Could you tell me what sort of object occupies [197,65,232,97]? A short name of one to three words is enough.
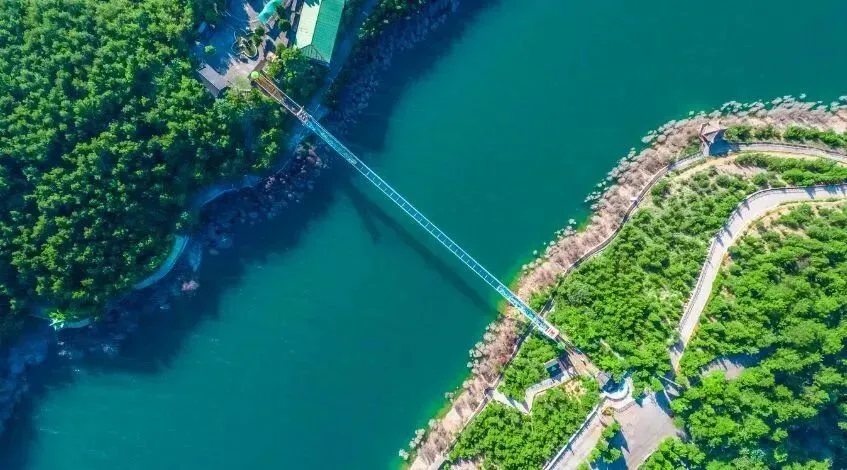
building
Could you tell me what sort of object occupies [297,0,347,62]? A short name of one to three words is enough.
building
